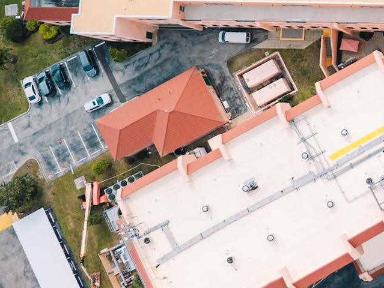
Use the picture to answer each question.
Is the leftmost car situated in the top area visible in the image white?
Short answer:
Yes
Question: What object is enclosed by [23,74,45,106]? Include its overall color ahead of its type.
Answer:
white car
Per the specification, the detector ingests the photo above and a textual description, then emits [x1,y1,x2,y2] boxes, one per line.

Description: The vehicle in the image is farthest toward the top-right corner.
[218,30,254,45]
